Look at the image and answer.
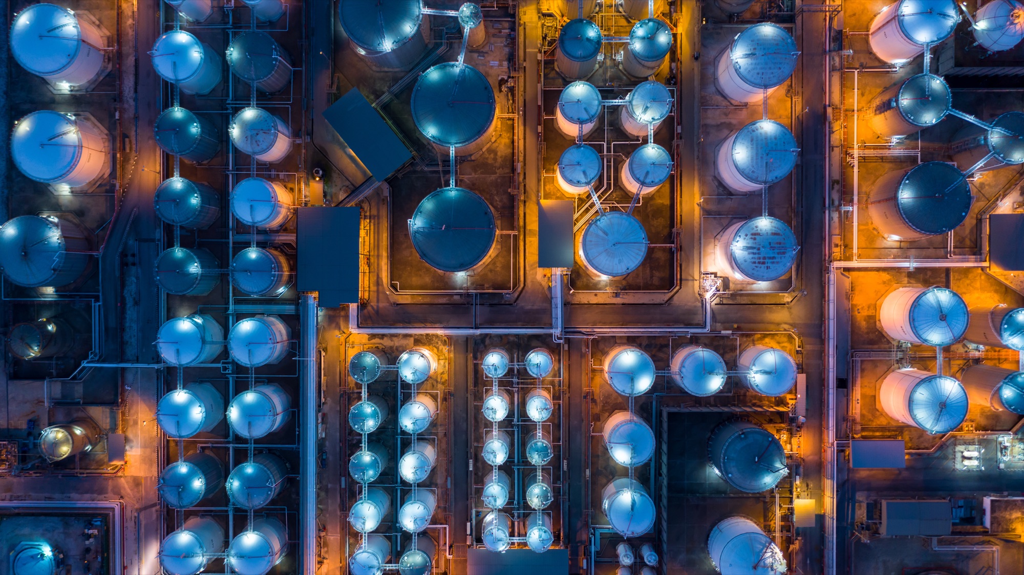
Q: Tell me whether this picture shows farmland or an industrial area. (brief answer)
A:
industrial area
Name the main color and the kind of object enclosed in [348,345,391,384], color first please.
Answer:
blue storage tank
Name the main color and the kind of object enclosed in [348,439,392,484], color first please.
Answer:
blue storage tank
